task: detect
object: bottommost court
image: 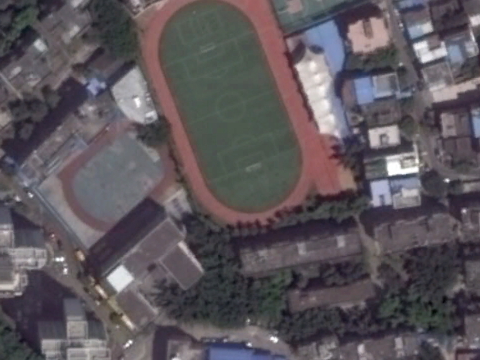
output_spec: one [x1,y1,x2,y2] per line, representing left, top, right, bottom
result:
[71,133,164,221]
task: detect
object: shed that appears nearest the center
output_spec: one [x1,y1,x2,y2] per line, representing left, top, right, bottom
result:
[165,187,193,221]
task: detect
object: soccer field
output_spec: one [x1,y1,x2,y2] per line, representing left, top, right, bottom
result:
[163,0,302,213]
